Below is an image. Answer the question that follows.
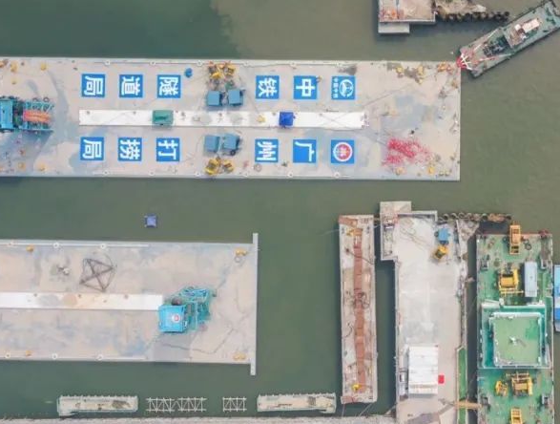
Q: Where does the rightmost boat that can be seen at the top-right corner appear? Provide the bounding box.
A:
[459,1,560,77]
